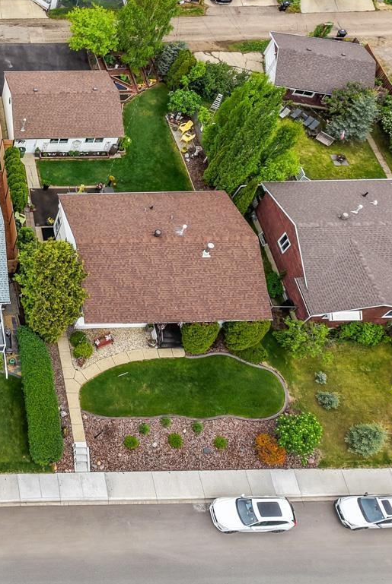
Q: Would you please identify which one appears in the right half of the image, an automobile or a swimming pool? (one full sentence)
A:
There is an automobile in the right half of the image.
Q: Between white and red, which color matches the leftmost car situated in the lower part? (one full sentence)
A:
The color of the leftmost car situated in the lower part is white.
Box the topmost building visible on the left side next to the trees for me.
[4,70,123,155]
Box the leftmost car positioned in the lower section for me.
[205,493,297,536]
